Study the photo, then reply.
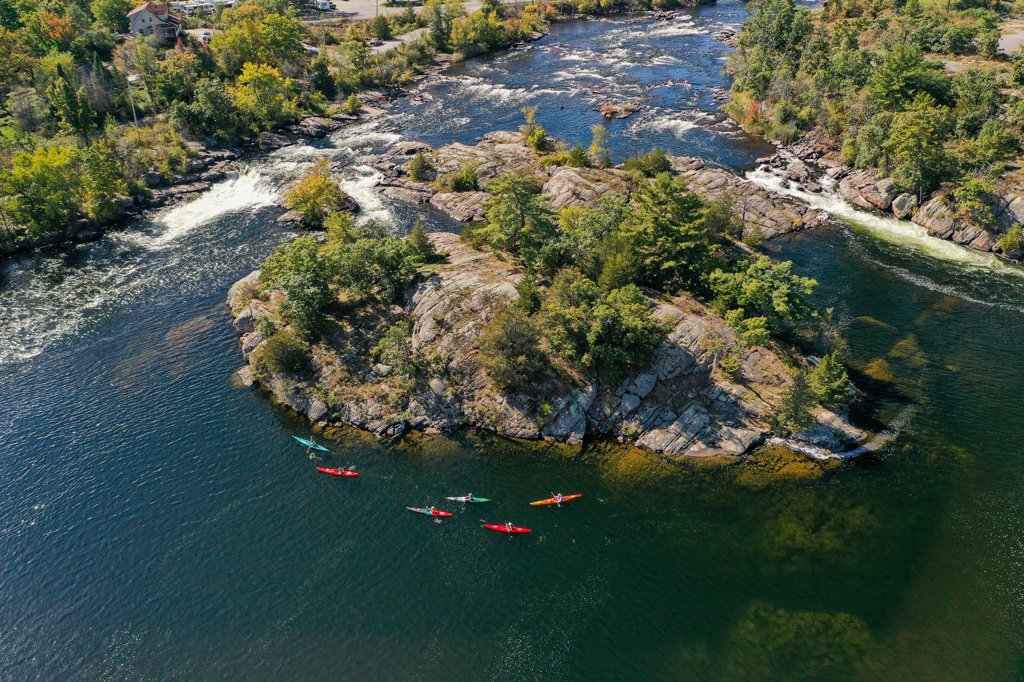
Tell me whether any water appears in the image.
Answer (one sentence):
Yes, water can be seen from above here.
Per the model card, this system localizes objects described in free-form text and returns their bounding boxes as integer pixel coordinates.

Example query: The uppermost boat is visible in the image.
[292,435,329,451]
